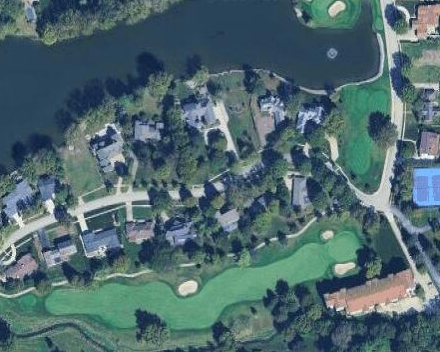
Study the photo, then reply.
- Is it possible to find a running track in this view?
No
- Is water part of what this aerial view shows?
Yes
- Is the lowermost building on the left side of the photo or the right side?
right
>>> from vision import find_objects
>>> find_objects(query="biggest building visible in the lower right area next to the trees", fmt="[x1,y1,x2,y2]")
[325,267,419,313]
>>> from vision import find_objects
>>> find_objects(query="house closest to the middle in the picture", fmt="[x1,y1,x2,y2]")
[216,210,241,233]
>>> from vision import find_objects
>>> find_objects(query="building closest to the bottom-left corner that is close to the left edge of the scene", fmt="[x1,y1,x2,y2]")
[5,251,41,280]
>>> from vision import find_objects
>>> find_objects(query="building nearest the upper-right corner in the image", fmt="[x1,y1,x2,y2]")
[416,1,440,36]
